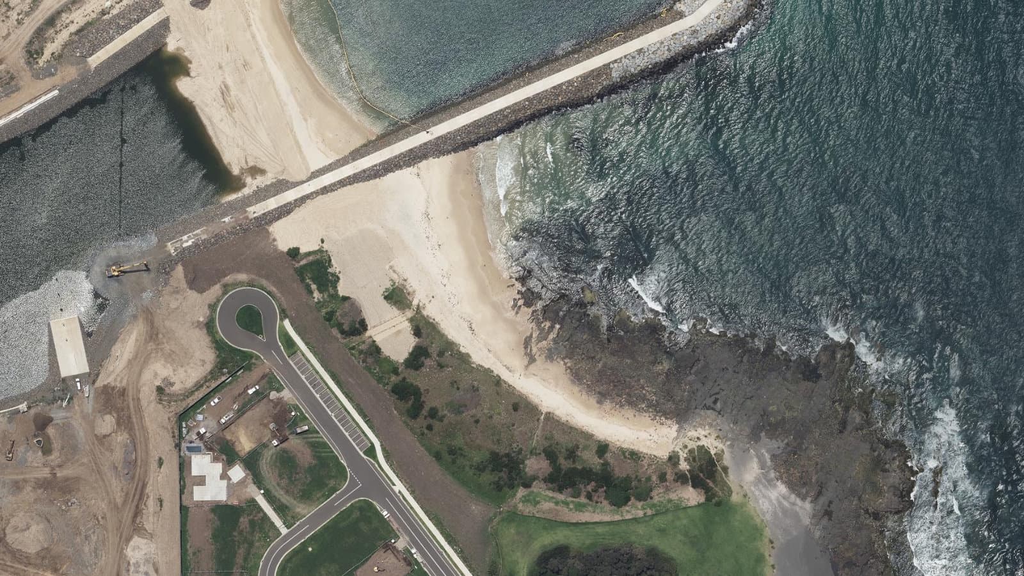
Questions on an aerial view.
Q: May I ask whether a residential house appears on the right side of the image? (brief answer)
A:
No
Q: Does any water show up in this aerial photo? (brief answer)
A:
Yes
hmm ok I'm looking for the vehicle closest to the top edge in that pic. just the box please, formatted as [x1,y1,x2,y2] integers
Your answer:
[108,259,146,275]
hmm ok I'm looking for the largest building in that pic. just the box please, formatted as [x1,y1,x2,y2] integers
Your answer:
[190,455,226,501]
